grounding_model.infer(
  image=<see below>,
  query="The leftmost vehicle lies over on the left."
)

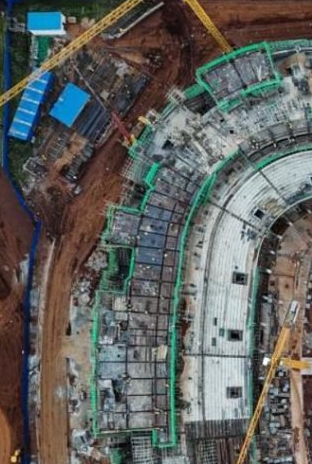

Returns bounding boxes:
[9,449,21,464]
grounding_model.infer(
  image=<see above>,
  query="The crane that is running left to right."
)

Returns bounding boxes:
[0,0,241,109]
